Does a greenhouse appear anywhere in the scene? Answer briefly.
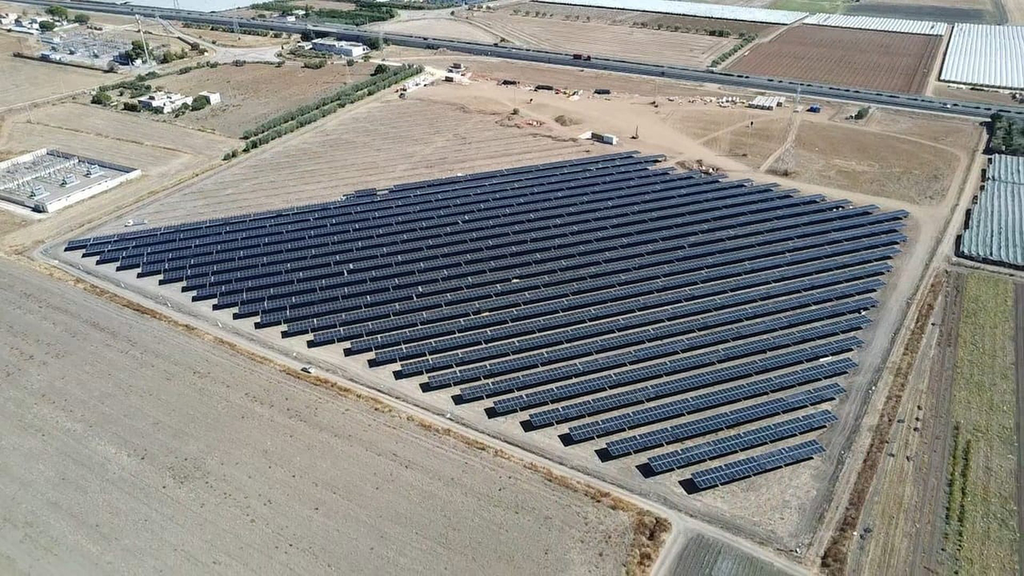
Yes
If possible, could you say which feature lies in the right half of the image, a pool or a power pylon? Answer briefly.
power pylon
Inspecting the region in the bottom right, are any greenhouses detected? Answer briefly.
No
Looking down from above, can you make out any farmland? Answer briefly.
Yes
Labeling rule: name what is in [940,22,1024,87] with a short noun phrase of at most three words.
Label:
greenhouse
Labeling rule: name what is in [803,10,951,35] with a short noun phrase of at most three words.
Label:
greenhouse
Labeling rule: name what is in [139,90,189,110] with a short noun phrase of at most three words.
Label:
house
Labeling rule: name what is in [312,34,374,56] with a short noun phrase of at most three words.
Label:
building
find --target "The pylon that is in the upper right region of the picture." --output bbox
[773,82,806,177]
